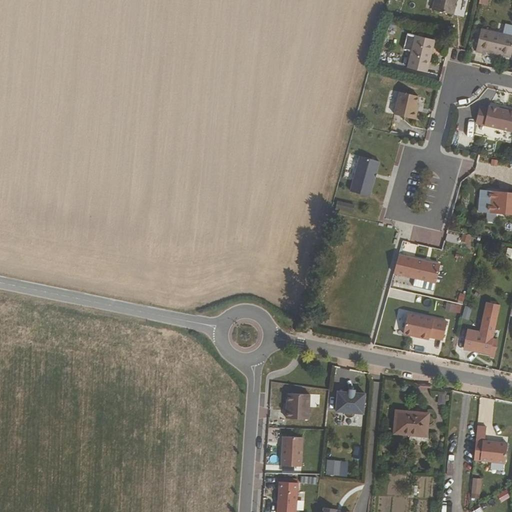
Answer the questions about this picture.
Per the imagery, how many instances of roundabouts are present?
1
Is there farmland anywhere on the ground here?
Yes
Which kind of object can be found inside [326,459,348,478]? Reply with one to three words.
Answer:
shed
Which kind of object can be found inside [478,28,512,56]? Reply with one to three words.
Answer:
house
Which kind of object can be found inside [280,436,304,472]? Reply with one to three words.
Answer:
house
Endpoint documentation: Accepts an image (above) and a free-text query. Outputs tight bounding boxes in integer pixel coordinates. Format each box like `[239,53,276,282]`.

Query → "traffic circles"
[211,304,282,376]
